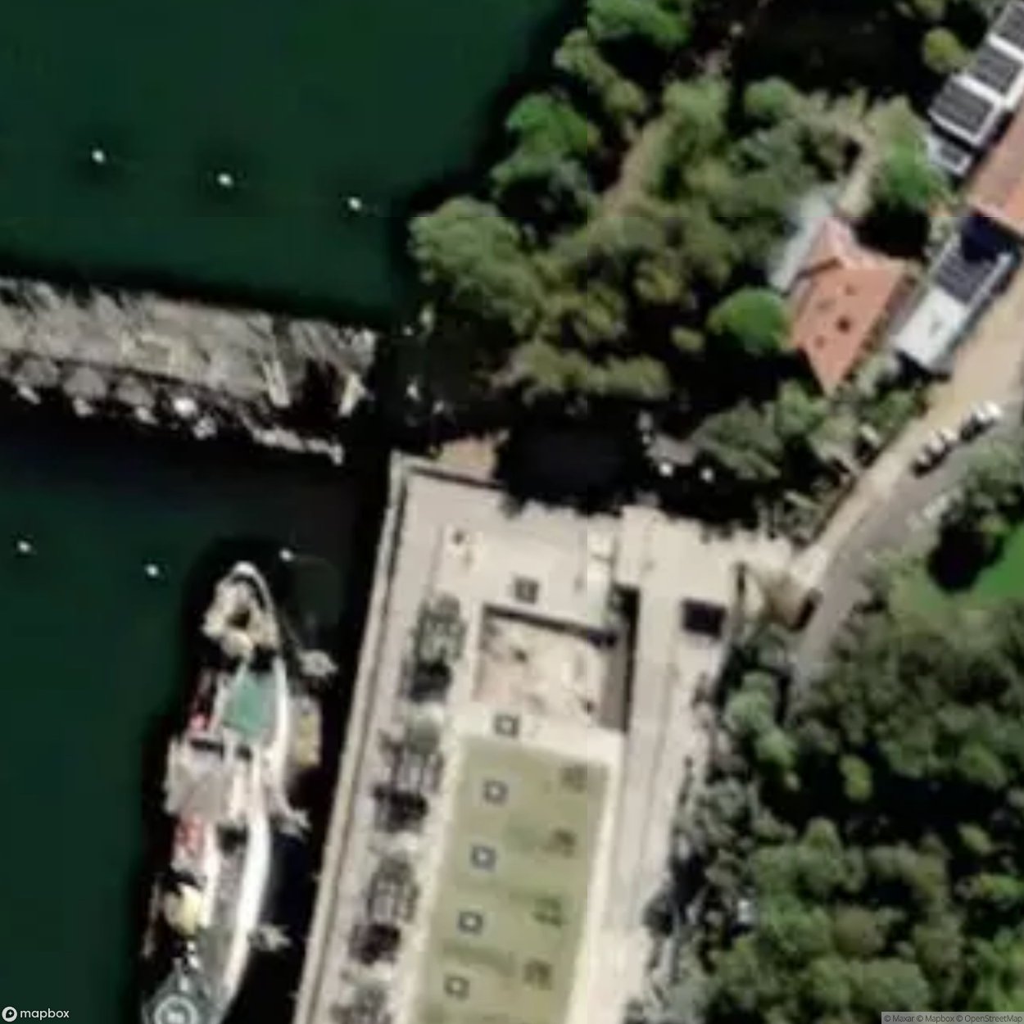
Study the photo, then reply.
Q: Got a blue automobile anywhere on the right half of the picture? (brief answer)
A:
No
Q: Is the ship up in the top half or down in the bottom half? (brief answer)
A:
bottom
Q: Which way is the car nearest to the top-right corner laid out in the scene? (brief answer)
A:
at an angle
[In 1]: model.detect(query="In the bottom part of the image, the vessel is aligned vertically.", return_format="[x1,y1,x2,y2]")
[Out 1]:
[137,562,292,1024]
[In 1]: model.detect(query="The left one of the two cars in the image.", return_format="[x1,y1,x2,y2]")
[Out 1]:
[915,431,961,473]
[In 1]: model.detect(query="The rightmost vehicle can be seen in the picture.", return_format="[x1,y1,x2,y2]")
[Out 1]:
[959,396,1005,438]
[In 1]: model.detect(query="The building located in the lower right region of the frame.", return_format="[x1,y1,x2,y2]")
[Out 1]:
[735,898,763,920]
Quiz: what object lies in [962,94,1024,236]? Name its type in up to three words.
house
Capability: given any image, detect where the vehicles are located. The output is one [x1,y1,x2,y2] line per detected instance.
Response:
[915,431,961,473]
[959,396,1005,438]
